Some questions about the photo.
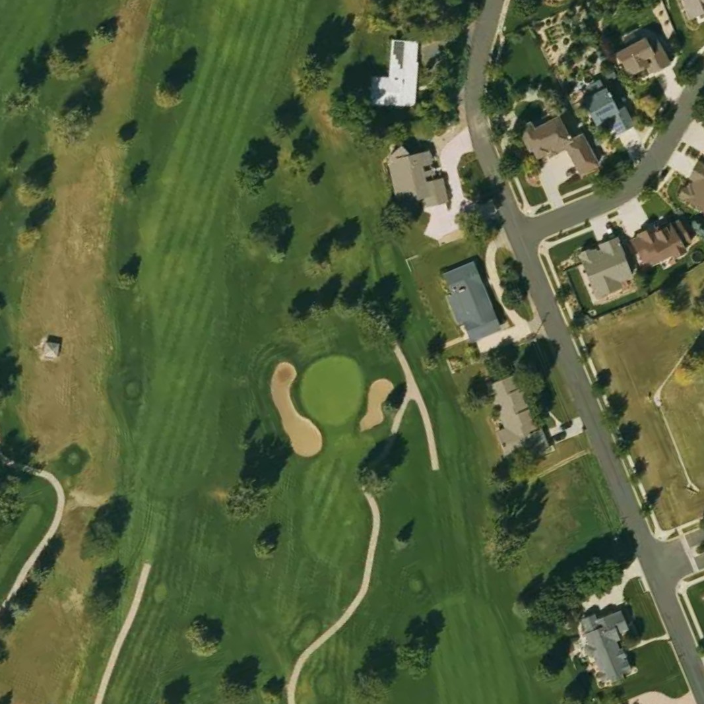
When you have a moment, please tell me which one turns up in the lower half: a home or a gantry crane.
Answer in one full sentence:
There is a home in the lower half.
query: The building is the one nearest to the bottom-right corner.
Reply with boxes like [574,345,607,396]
[577,607,638,684]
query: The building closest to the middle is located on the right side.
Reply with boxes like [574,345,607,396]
[443,262,503,344]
